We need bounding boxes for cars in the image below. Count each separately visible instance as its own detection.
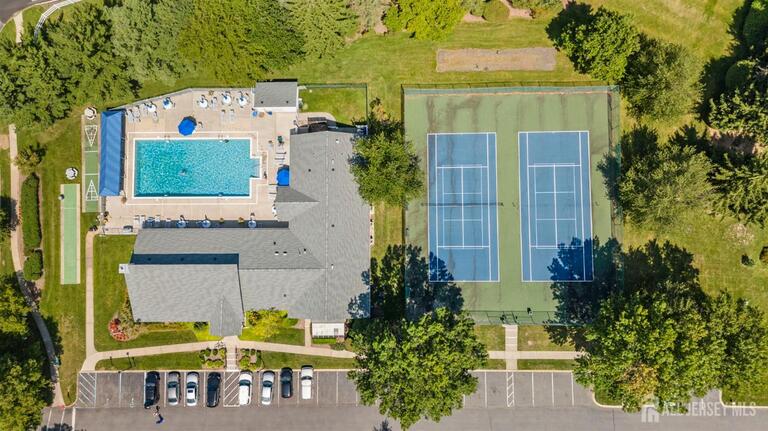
[279,368,293,400]
[205,375,221,407]
[236,372,253,406]
[143,374,160,406]
[298,367,314,401]
[166,373,182,405]
[260,373,275,405]
[184,374,200,406]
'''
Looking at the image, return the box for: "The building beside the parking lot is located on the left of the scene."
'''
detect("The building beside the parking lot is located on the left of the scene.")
[118,132,370,338]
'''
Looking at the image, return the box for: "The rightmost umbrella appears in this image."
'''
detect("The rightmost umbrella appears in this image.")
[275,169,289,186]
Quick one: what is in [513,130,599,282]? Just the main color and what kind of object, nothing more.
blue tennis court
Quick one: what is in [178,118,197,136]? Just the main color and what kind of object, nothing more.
blue umbrella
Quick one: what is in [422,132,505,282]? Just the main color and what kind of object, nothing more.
blue tennis court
